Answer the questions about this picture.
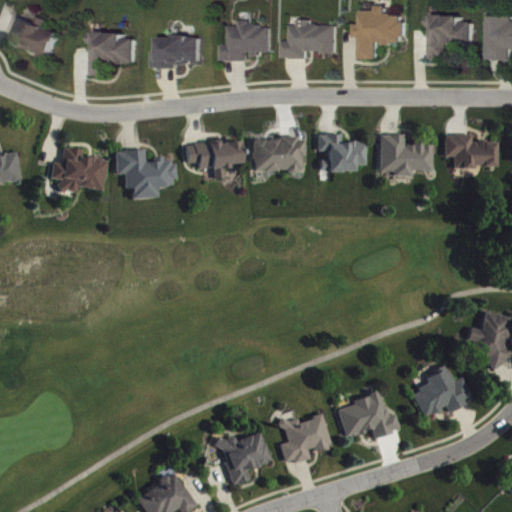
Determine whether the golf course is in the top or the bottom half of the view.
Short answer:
bottom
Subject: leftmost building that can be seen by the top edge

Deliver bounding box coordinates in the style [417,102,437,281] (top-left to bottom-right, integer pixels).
[8,16,58,54]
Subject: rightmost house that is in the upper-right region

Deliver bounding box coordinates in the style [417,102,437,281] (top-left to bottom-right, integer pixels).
[484,17,512,62]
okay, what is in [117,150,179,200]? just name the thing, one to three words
house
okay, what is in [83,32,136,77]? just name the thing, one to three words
house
